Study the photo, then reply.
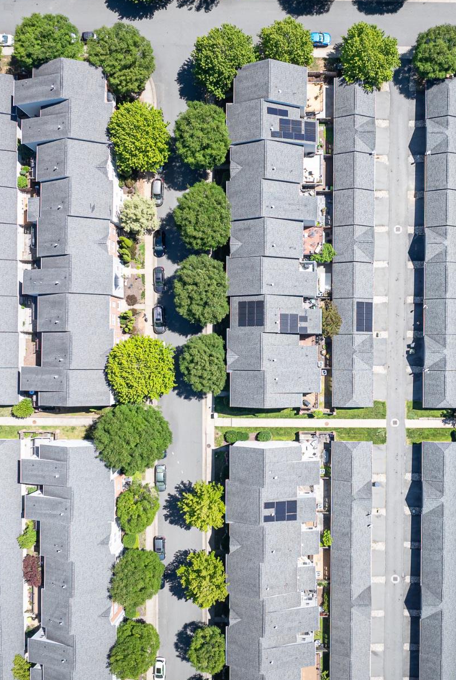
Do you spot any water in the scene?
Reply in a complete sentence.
No, water can't be seen anywhere here.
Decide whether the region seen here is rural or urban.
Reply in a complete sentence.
The area shown here is urban.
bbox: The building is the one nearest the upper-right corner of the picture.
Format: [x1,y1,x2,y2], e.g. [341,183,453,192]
[424,78,456,119]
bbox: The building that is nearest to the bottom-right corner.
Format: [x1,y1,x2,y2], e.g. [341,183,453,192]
[419,643,456,680]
